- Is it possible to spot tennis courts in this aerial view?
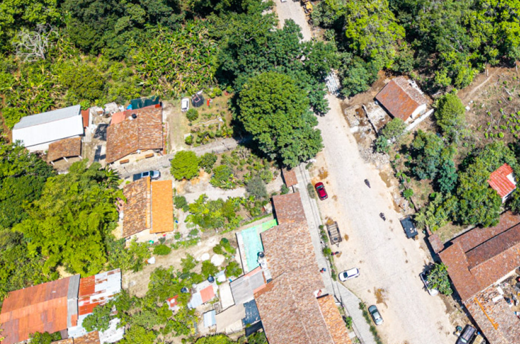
No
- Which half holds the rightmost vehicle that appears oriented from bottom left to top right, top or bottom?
bottom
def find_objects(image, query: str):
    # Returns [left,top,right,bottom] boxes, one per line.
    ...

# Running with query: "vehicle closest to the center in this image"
[314,181,327,199]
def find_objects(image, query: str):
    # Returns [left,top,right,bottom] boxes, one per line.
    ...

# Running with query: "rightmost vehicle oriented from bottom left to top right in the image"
[456,323,476,344]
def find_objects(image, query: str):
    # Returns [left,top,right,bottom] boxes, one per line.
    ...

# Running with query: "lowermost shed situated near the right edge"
[464,288,520,344]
